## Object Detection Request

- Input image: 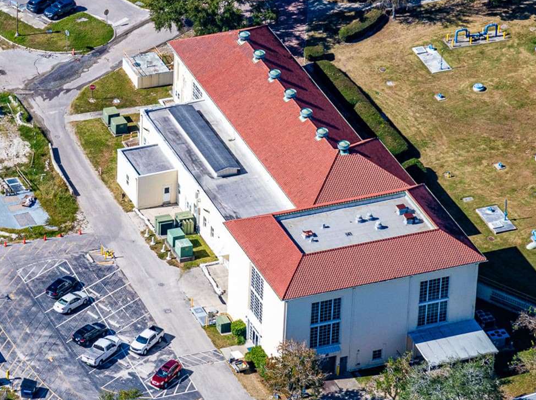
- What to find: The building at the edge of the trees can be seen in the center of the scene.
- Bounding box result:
[118,24,501,385]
